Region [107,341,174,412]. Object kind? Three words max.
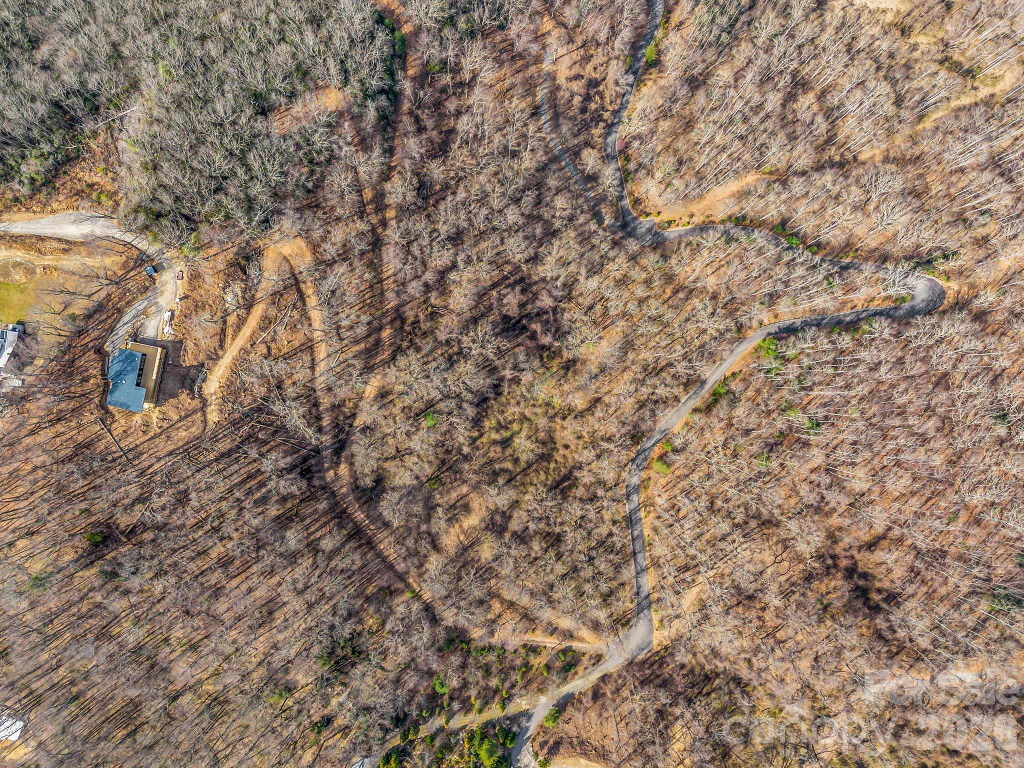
house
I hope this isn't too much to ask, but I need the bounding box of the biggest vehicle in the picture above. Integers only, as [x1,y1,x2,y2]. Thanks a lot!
[142,261,163,275]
